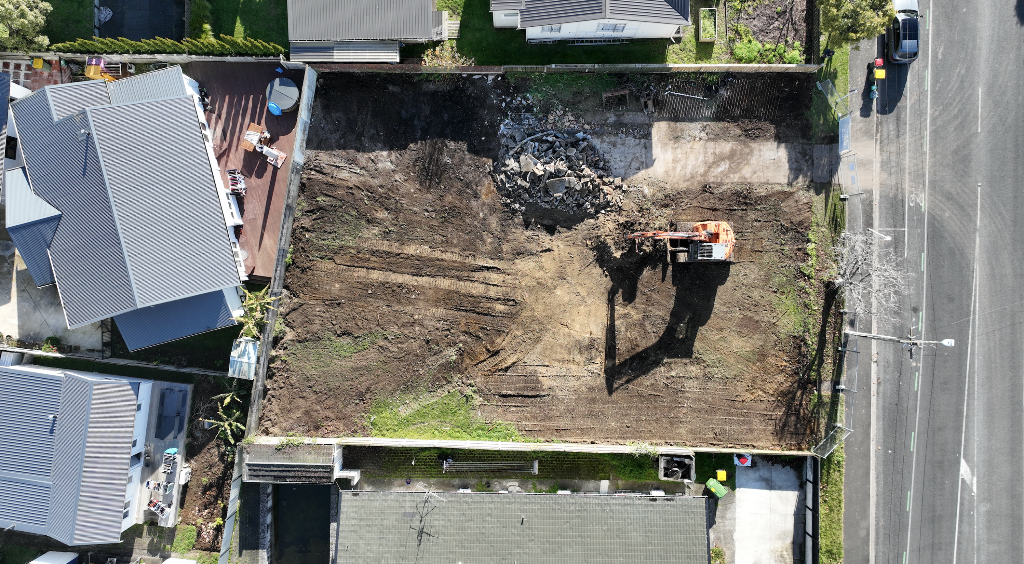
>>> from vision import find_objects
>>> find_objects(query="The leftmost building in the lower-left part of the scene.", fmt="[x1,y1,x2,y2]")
[0,359,157,548]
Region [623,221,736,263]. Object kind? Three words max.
work vehicle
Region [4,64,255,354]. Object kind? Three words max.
house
